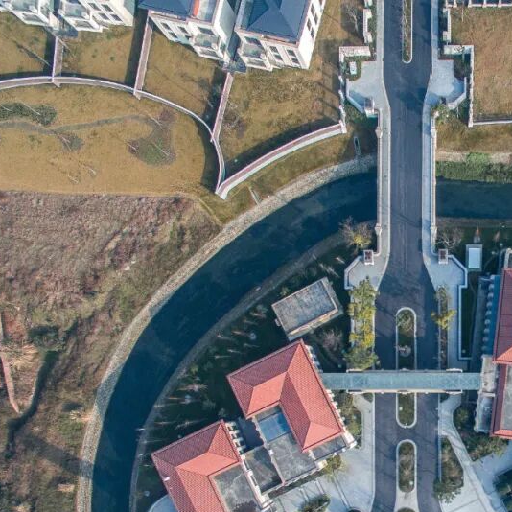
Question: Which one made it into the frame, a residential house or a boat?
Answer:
residential house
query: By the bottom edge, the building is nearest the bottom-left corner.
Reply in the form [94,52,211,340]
[151,420,284,512]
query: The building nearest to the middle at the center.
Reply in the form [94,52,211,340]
[272,278,340,335]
